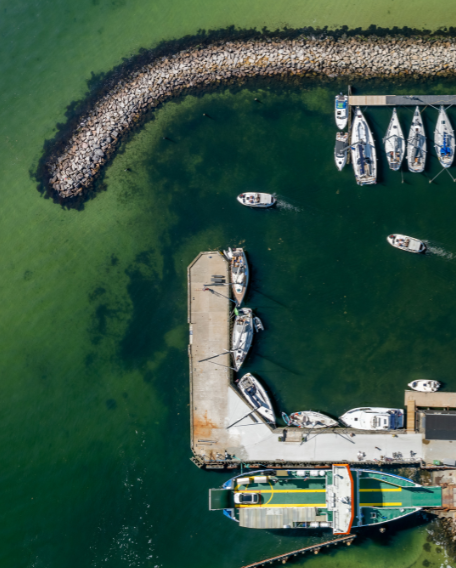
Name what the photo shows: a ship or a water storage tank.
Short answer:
ship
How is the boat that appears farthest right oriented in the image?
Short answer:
vertically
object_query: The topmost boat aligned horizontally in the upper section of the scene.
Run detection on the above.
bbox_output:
[237,192,278,208]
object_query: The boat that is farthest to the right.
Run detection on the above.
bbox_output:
[432,105,455,178]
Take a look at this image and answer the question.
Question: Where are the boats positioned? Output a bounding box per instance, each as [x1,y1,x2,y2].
[340,406,406,430]
[290,411,341,433]
[405,105,428,177]
[388,233,428,253]
[342,105,379,186]
[212,249,250,305]
[408,377,442,392]
[237,192,278,208]
[333,129,348,171]
[232,372,276,423]
[334,92,348,129]
[381,106,406,181]
[213,307,255,371]
[432,105,455,178]
[254,317,264,333]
